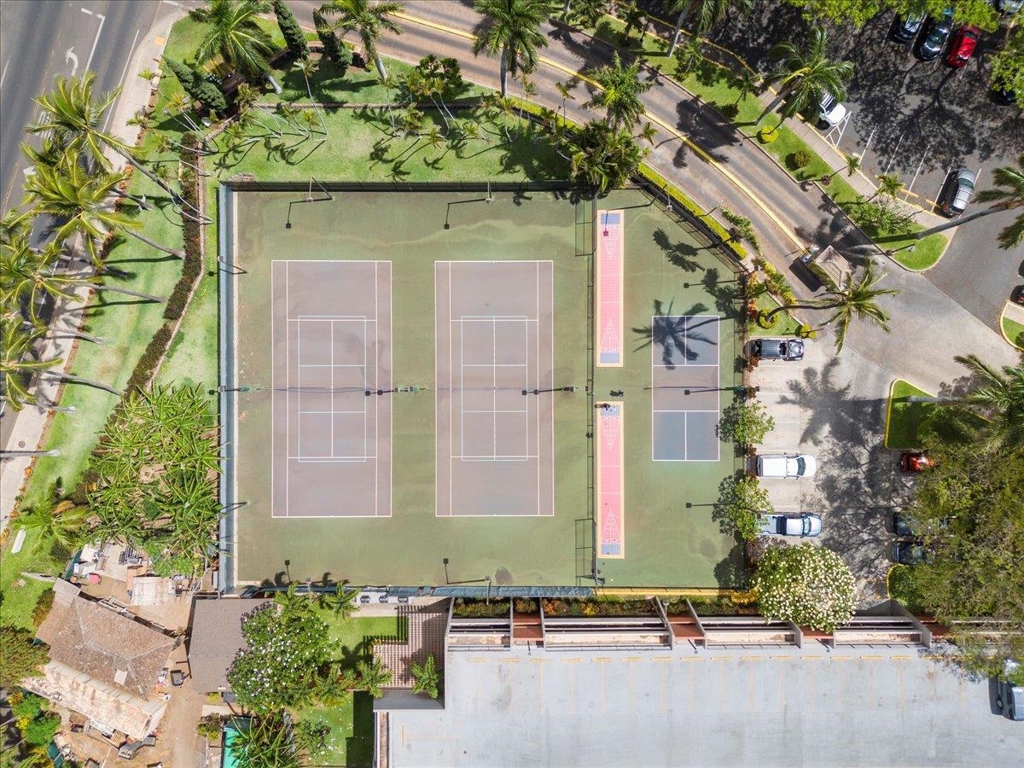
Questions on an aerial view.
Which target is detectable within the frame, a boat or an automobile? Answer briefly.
automobile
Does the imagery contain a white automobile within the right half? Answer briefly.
Yes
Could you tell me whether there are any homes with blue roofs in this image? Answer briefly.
No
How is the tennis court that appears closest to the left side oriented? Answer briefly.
vertically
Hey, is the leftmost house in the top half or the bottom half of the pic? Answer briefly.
bottom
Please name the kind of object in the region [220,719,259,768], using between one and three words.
swimming pool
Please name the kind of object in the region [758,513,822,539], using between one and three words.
truck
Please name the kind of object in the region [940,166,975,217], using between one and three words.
car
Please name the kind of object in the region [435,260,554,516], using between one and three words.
tennis court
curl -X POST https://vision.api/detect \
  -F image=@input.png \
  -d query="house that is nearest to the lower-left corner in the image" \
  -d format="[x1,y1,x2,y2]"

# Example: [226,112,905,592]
[20,574,176,739]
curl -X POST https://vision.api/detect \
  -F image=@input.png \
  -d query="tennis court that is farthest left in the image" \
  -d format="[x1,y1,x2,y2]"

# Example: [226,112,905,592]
[271,260,392,518]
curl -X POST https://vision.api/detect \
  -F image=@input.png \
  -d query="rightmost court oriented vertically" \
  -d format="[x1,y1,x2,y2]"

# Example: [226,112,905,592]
[652,316,720,462]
